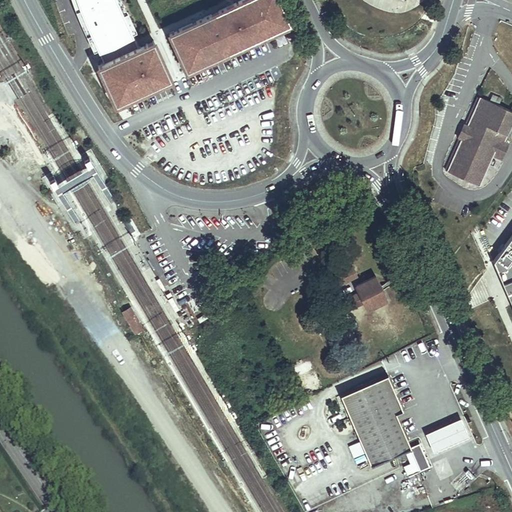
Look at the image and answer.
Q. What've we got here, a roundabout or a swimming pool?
roundabout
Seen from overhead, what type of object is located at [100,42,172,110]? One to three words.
building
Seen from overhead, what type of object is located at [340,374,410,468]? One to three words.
building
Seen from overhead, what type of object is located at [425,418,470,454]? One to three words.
shed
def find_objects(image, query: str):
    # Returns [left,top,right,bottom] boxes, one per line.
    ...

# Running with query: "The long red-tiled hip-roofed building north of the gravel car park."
[170,0,292,76]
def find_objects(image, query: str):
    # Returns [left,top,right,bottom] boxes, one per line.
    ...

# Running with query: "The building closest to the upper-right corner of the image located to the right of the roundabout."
[448,92,512,186]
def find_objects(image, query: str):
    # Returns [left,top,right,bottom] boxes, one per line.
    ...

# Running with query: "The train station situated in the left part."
[60,148,170,310]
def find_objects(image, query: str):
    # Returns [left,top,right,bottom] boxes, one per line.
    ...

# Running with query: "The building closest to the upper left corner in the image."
[70,0,139,56]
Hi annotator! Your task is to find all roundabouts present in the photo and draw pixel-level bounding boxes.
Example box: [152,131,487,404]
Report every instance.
[298,48,414,175]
